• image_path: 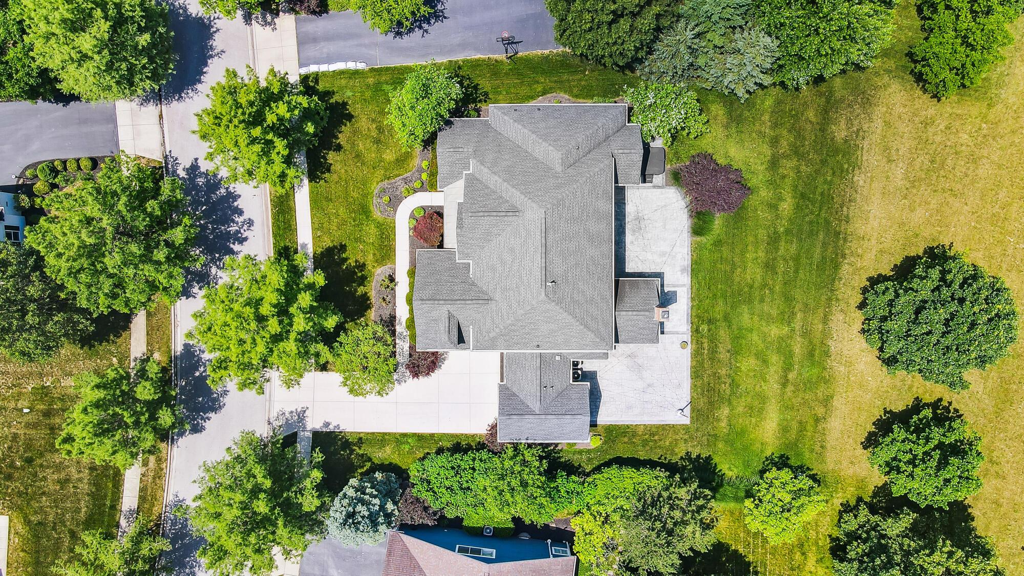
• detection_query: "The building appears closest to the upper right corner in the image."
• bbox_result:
[412,103,670,444]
